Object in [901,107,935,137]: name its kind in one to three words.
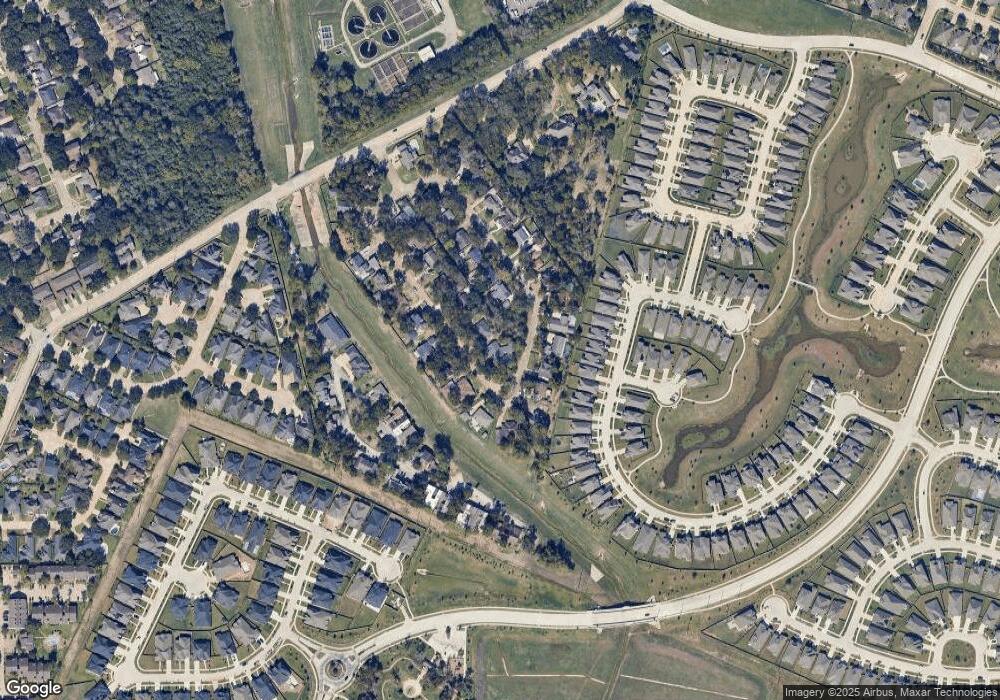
house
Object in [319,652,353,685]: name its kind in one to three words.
roundabout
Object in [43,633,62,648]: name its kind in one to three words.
swimming pool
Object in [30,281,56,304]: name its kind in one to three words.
building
